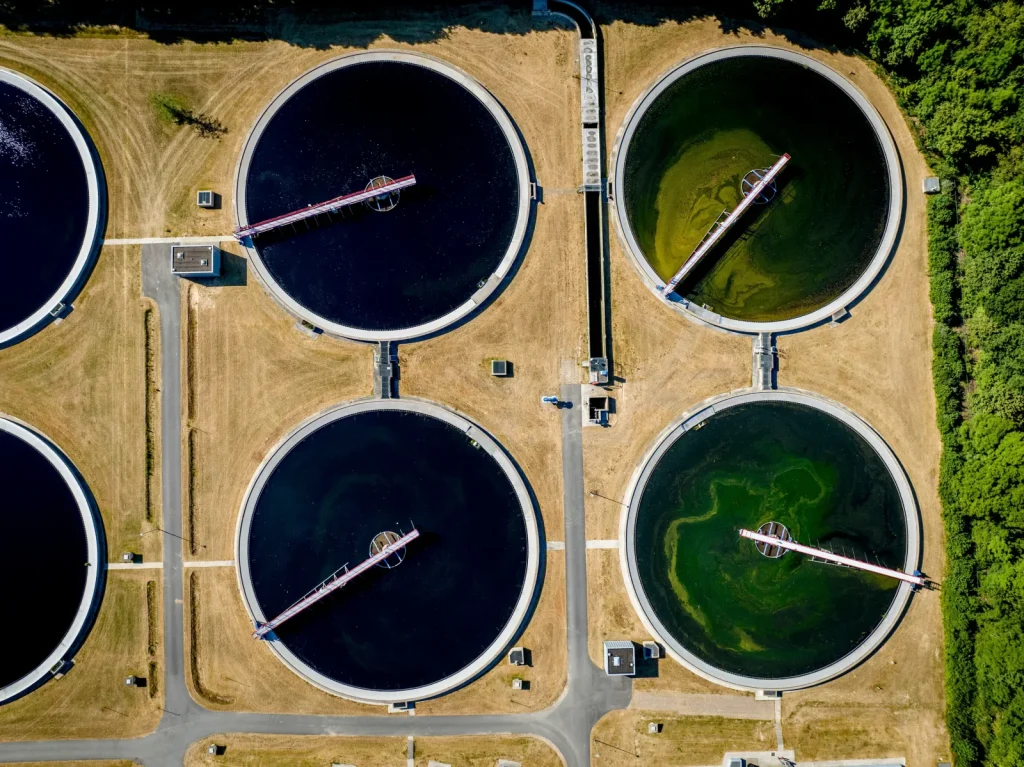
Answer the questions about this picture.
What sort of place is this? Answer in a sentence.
This image shows an industrial area.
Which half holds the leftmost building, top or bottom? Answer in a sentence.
The leftmost building sits in the top half of the picture.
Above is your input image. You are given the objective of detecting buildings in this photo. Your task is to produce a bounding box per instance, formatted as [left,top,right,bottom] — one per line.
[171,245,221,276]
[605,641,635,676]
[727,755,744,767]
